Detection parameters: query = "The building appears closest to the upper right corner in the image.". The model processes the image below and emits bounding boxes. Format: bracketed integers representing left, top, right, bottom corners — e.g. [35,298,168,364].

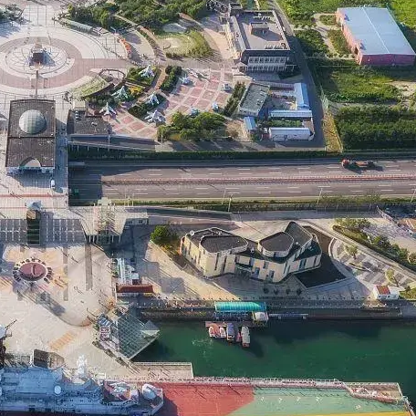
[334,6,415,67]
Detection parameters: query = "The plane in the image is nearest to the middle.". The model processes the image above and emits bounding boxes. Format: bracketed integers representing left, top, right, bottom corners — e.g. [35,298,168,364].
[144,114,163,133]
